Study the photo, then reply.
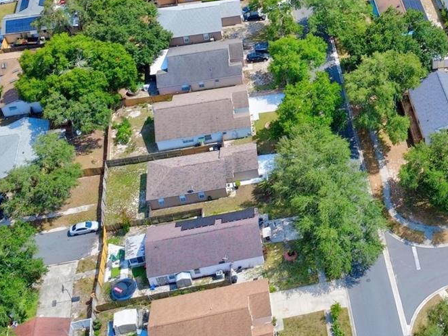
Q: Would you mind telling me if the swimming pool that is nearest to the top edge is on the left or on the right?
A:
left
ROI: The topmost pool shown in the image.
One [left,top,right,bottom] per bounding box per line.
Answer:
[110,276,139,302]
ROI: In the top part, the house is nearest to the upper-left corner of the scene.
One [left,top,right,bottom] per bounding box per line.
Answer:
[0,0,68,43]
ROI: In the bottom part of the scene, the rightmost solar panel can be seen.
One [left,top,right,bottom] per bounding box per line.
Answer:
[222,208,254,222]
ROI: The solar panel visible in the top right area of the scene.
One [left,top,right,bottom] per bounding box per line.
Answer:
[400,0,426,17]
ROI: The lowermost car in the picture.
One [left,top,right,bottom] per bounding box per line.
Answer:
[70,221,99,239]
